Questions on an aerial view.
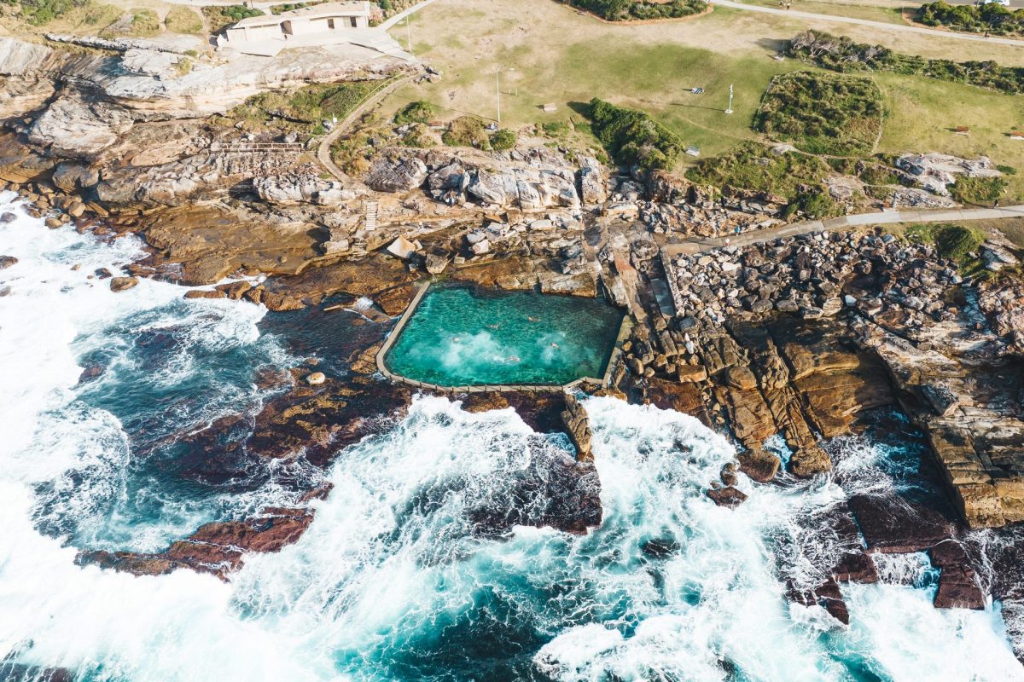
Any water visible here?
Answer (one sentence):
Yes, there's water in this view.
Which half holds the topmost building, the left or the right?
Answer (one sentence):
The topmost building is on the left side of the image.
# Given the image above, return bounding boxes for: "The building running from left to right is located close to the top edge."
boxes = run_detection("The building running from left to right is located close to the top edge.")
[219,0,370,40]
